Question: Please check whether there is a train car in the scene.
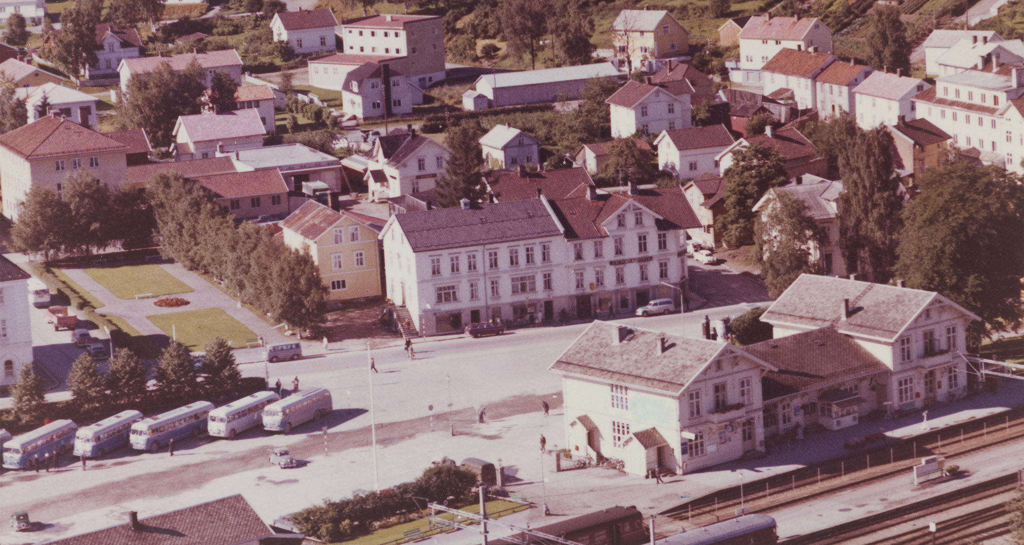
Yes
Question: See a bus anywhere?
Yes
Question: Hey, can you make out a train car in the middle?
No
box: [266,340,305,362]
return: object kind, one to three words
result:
vehicle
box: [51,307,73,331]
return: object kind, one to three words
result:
truck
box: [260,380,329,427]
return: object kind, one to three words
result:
bus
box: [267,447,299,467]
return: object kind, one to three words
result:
car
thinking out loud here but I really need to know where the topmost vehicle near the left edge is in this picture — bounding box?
[28,282,50,309]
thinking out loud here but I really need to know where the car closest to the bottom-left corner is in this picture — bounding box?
[5,510,36,531]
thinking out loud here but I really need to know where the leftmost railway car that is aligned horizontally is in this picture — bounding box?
[463,500,650,545]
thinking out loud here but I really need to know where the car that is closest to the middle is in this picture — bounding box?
[468,324,511,339]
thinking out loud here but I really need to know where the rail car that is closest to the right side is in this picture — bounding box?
[657,514,786,545]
